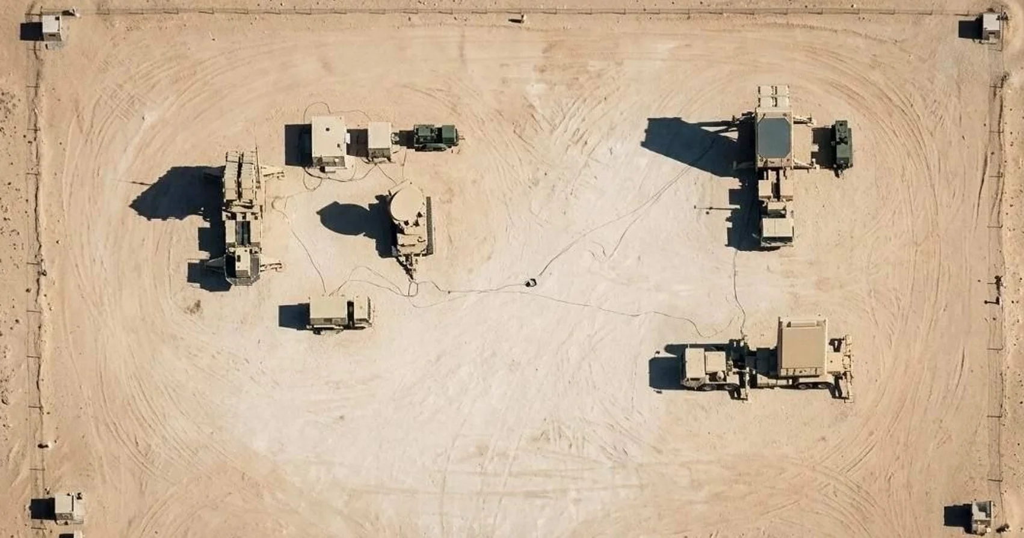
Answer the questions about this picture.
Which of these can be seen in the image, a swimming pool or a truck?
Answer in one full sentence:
Looking from above, you can make out a truck.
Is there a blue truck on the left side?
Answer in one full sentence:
No, the scene shows no blue truck on the left side.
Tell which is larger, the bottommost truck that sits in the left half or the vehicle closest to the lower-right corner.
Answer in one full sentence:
Of the two, the vehicle is larger and the truck is the smaller one.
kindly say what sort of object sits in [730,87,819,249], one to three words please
truck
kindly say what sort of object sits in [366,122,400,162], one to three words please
trailer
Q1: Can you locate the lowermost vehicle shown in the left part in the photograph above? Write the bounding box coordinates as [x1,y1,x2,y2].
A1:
[307,295,375,335]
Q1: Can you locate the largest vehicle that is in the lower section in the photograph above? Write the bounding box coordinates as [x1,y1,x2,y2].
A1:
[679,315,852,405]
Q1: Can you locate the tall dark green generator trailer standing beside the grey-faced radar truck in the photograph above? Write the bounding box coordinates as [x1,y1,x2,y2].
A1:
[831,120,852,176]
